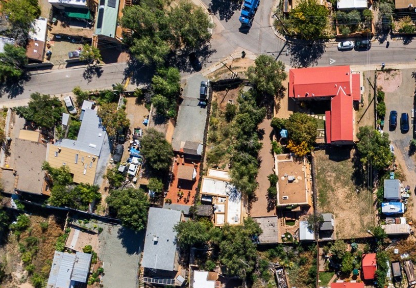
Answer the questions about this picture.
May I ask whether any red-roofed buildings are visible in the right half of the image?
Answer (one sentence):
Yes, I can see a red-roofed building in the right half of the image.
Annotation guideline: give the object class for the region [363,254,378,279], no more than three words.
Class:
shed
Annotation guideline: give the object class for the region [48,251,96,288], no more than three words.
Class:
house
